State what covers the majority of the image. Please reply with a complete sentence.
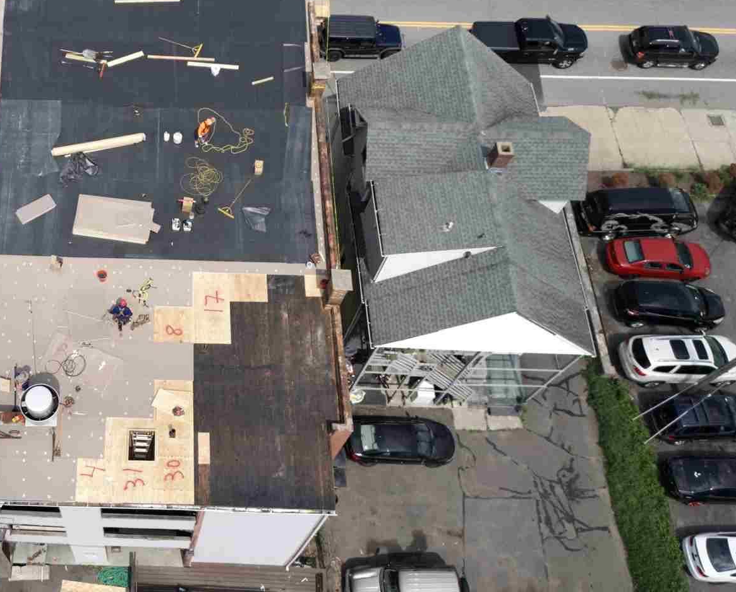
The scene is dominated by buildings.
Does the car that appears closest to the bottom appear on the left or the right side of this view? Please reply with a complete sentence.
It is on the right.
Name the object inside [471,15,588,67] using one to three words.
truck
